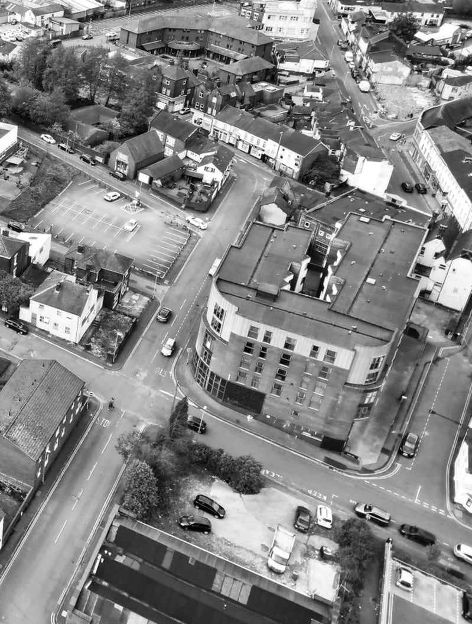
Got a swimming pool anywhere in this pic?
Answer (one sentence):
No, the frame has no swimming pool in it.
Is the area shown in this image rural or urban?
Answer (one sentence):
The land in this view is best described as urban.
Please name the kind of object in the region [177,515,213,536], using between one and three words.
car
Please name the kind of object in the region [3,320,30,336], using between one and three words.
car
